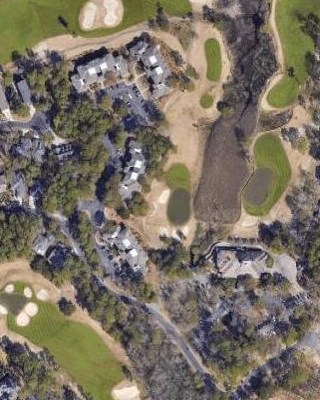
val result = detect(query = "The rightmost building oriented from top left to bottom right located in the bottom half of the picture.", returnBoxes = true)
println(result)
[102,229,153,281]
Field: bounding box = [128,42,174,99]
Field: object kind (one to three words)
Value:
building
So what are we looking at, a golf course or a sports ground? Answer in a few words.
golf course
